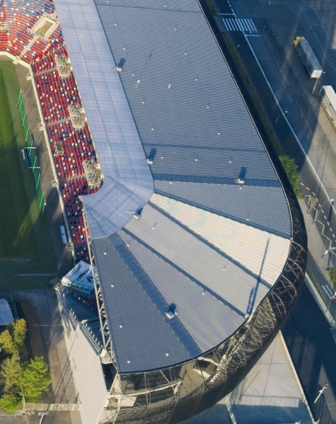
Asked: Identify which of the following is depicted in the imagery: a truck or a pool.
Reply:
truck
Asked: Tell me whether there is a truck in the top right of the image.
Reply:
Yes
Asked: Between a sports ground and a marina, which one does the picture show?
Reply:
sports ground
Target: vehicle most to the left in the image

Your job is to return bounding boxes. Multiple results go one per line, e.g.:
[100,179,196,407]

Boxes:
[287,39,327,85]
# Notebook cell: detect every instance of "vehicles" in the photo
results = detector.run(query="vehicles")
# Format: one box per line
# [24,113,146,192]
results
[287,39,327,85]
[318,86,336,133]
